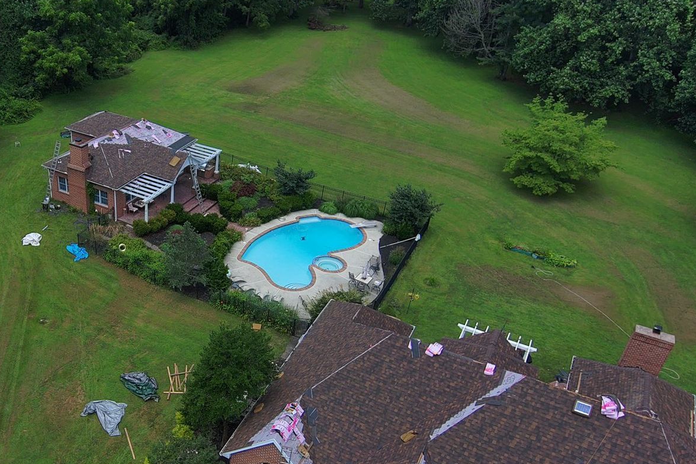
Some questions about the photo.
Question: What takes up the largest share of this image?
grass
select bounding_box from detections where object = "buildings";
[218,300,696,464]
[41,111,223,235]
